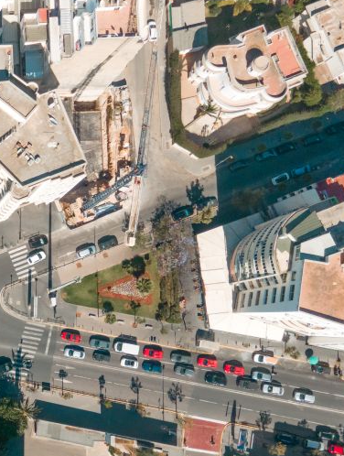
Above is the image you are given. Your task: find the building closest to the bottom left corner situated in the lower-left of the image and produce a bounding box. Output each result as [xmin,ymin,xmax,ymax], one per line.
[32,420,136,454]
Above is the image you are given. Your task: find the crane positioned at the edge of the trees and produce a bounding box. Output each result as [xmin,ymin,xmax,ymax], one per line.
[73,0,166,247]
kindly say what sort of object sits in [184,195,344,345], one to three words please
building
